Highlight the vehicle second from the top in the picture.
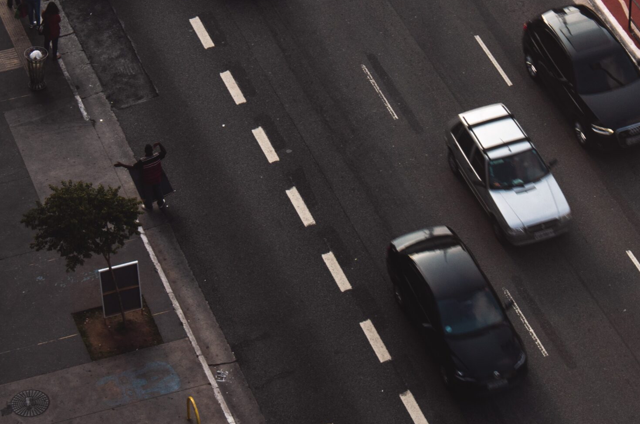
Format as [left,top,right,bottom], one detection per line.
[446,102,573,245]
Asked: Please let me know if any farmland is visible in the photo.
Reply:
No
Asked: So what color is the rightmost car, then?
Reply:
black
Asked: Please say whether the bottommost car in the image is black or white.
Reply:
black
